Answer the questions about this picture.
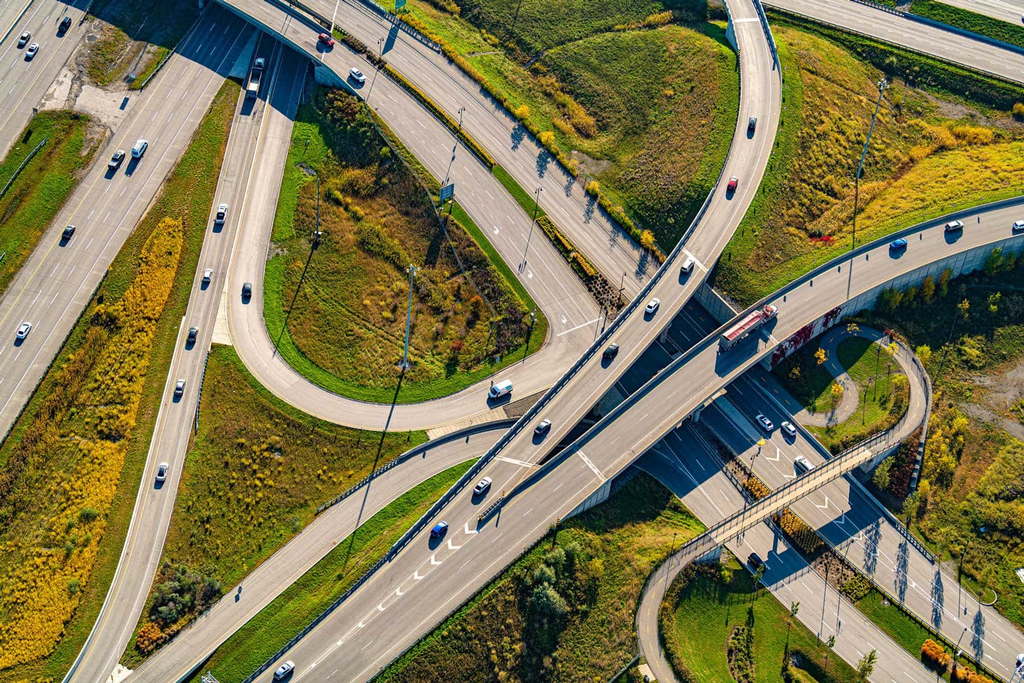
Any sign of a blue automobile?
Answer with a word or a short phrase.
Yes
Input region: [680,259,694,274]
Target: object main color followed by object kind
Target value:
white car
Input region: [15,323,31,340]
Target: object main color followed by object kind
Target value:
white car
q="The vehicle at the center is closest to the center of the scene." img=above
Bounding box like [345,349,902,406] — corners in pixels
[488,380,514,401]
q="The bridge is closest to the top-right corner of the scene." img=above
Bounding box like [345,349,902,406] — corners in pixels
[721,0,768,26]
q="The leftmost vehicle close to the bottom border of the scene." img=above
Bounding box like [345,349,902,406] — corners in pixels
[272,661,295,681]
